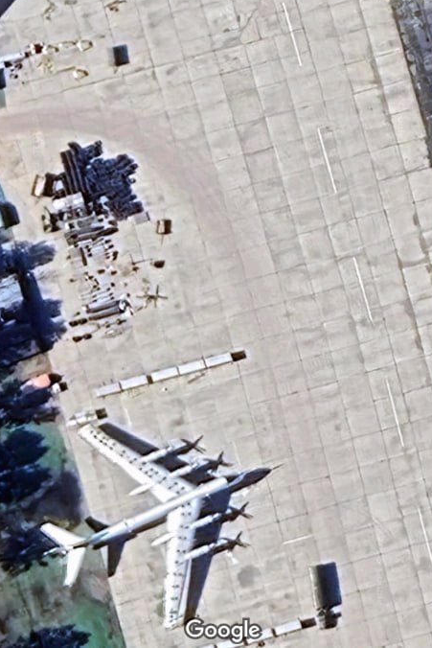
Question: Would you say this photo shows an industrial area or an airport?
airport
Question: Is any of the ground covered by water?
No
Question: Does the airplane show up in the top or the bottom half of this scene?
bottom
